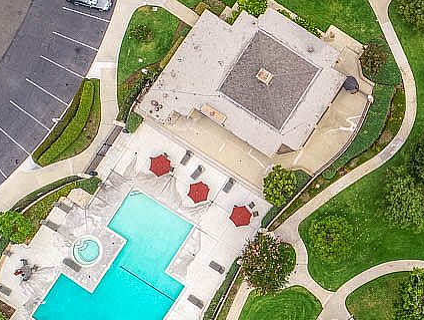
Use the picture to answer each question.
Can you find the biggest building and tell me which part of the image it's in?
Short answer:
top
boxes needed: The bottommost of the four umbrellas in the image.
[229,204,252,227]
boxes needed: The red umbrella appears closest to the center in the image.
[186,180,209,204]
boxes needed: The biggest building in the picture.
[134,8,346,158]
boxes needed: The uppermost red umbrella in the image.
[149,153,173,176]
